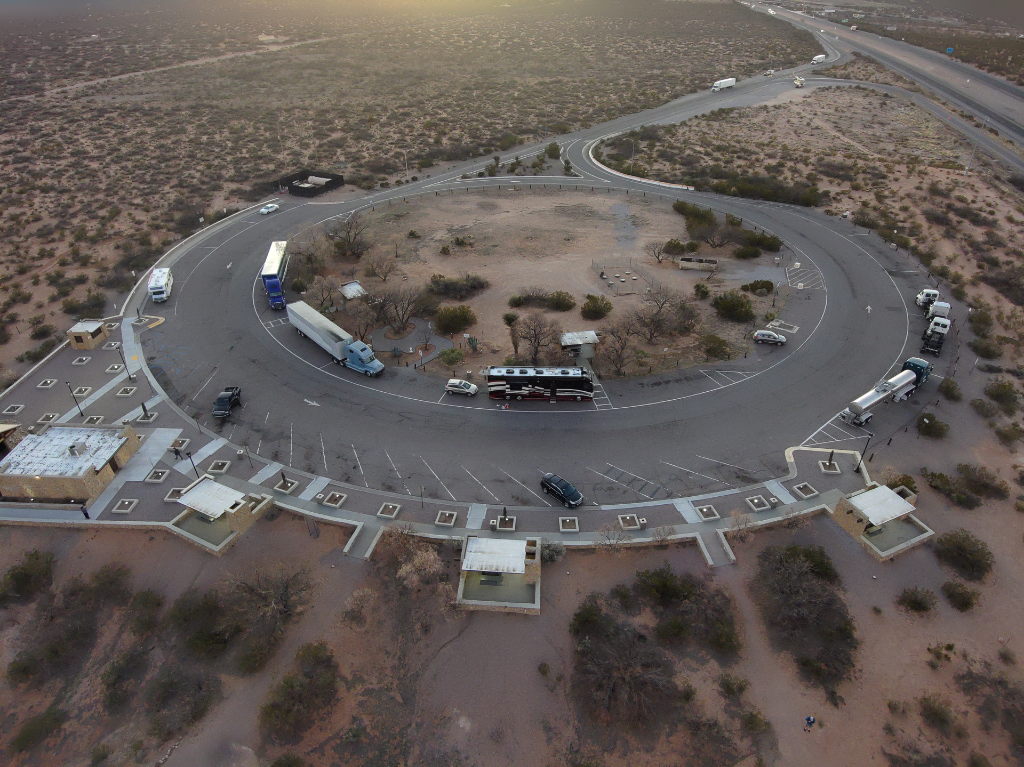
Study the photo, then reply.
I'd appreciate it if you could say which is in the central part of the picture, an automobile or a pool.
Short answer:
automobile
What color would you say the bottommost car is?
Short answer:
black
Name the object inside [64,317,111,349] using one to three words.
shed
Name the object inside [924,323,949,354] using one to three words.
truck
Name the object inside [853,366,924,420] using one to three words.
trailer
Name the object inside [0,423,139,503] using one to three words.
building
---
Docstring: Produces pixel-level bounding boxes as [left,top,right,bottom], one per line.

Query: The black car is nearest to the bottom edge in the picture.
[539,471,584,507]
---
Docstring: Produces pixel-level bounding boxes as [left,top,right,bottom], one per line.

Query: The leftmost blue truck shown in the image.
[264,276,285,307]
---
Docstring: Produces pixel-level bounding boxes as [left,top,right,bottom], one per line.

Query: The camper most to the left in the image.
[148,267,172,300]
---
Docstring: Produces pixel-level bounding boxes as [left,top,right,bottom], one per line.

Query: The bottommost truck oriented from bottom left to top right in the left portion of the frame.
[209,386,245,417]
